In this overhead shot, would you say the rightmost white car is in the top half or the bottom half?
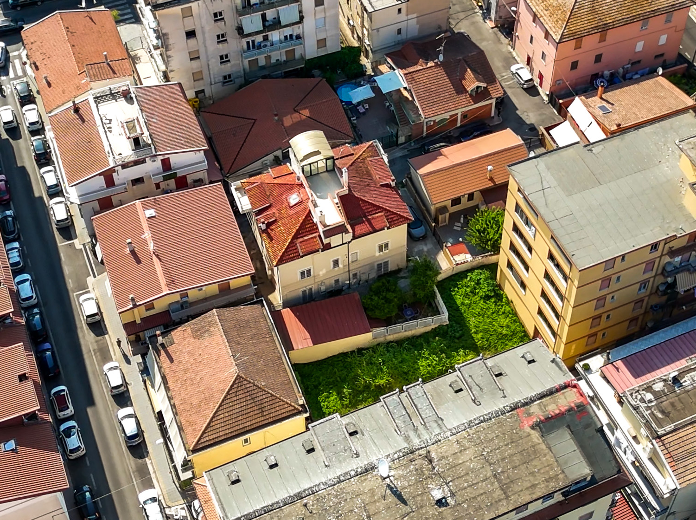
top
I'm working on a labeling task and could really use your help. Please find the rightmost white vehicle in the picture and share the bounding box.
[508,63,538,89]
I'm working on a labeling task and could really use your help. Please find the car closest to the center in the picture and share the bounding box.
[407,207,427,240]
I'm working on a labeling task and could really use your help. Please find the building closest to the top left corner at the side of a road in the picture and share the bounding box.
[23,0,134,114]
